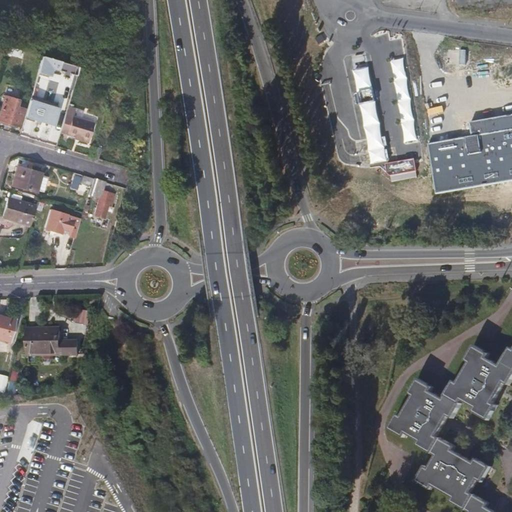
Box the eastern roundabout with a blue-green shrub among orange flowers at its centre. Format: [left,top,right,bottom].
[266,228,340,302]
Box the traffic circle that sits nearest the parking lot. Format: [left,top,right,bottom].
[117,246,192,321]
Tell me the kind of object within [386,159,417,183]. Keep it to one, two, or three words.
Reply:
building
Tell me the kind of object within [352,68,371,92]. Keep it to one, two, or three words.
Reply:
tent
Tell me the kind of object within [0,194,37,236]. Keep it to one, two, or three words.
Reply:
house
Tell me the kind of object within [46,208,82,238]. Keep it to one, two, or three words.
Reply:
house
